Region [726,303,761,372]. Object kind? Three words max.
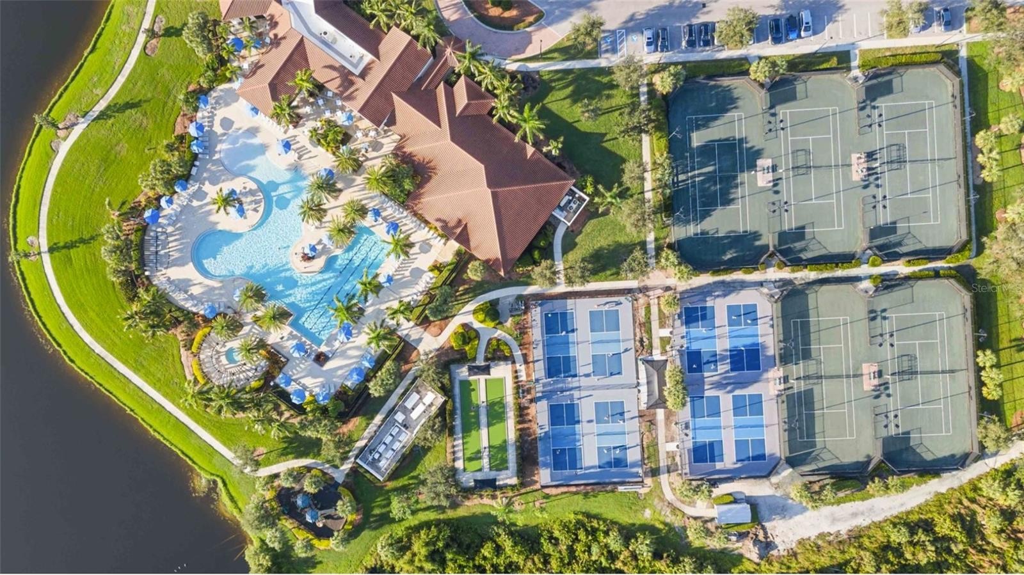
sports court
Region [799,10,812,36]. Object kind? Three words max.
vehicle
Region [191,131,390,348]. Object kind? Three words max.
swimming pool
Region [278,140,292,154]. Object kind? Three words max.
umbrella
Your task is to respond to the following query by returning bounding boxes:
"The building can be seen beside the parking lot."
[215,0,574,275]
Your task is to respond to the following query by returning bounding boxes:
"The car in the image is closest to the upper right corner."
[937,7,950,32]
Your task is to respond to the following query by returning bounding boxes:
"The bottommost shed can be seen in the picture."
[716,503,753,525]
